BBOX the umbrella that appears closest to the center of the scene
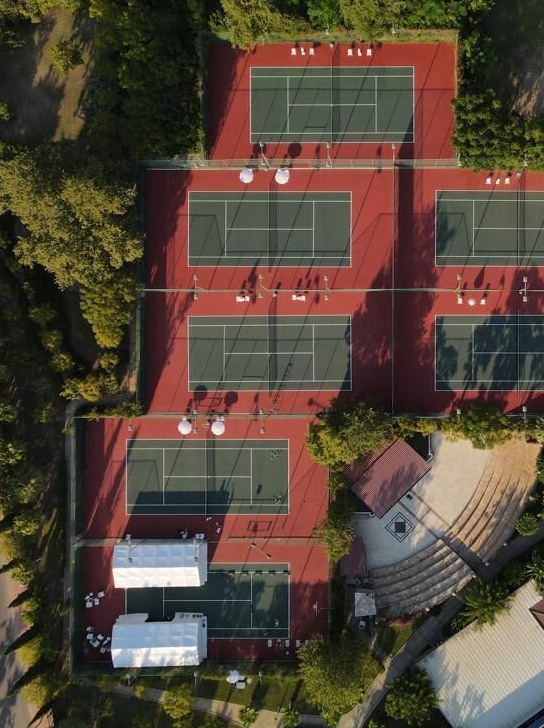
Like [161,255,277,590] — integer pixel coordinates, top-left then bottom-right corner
[211,419,225,433]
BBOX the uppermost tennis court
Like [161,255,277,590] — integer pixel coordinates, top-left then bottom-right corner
[206,43,457,168]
